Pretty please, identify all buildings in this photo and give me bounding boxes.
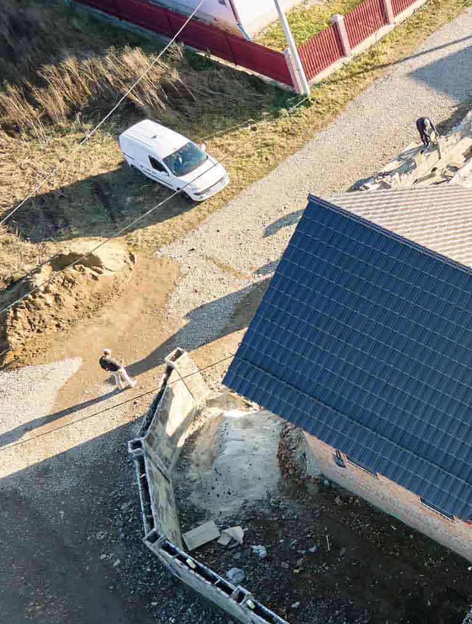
[222,183,472,563]
[138,0,310,42]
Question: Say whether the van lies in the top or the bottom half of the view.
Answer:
top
